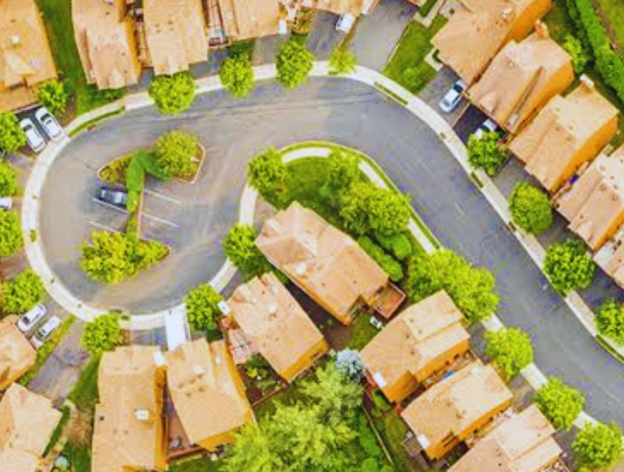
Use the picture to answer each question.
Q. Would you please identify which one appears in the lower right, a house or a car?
house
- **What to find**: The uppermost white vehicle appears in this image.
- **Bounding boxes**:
[334,19,351,38]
